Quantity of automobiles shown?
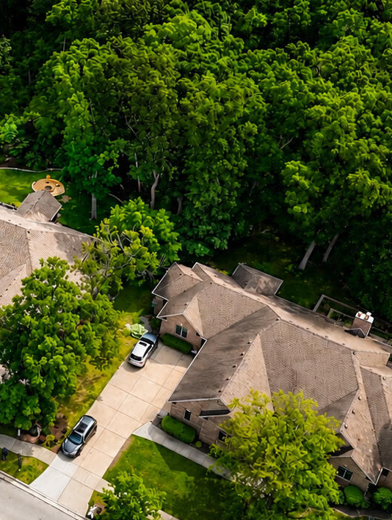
2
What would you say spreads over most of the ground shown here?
trees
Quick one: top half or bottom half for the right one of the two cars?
bottom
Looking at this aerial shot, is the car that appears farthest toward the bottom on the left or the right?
left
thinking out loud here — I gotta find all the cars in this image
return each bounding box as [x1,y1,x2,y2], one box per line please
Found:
[127,331,164,370]
[61,415,102,462]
